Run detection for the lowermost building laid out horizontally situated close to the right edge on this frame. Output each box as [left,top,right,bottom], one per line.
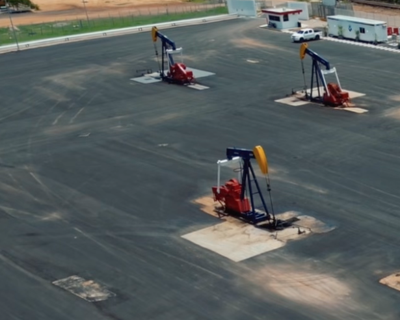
[323,16,387,44]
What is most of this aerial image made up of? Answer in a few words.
paved ground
